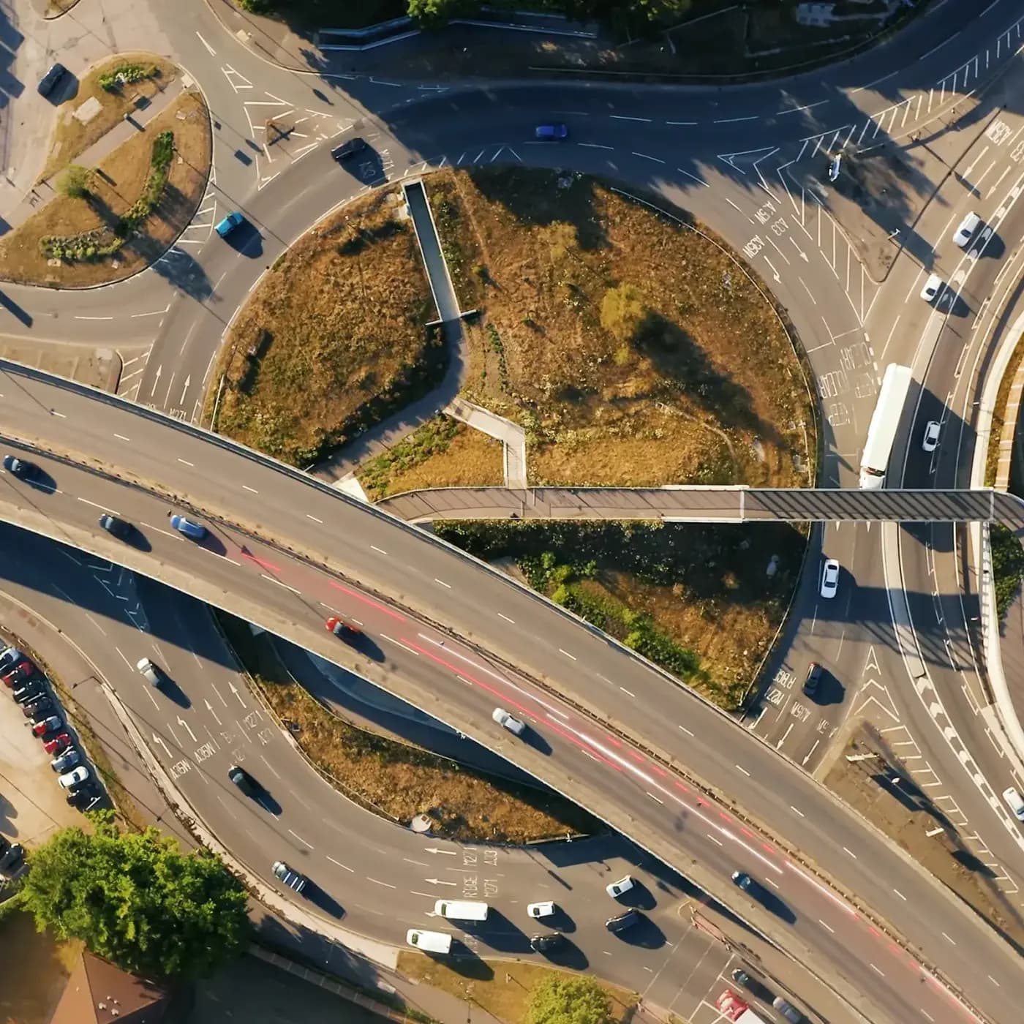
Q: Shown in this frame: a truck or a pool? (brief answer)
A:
truck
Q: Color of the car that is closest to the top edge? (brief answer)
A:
black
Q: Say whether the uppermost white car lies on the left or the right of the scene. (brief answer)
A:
right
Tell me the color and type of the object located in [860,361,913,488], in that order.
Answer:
white truck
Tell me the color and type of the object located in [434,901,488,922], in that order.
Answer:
white vehicle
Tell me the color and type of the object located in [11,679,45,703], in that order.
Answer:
black car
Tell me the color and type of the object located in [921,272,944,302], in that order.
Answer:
white car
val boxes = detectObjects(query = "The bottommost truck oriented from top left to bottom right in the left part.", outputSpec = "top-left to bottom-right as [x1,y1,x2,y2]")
[271,863,309,895]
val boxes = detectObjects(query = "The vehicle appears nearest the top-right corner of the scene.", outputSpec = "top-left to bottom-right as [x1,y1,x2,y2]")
[952,210,983,247]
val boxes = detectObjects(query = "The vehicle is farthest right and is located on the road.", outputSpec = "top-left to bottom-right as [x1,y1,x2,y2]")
[1001,786,1024,822]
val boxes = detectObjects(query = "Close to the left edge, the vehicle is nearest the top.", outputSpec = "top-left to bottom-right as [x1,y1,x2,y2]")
[36,63,65,95]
